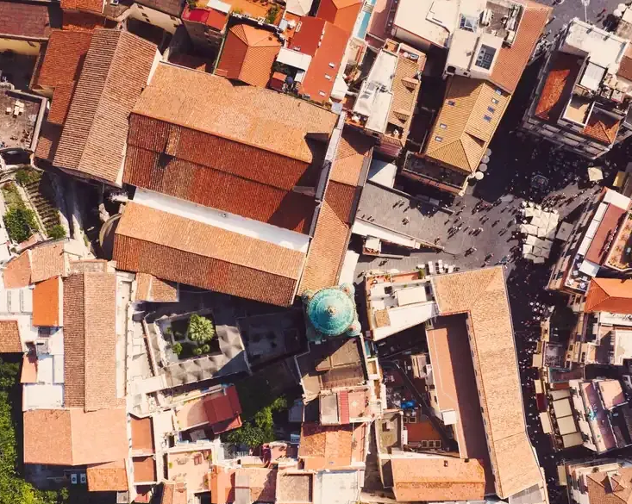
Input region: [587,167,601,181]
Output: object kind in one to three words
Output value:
umbrella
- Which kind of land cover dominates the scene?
buildings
